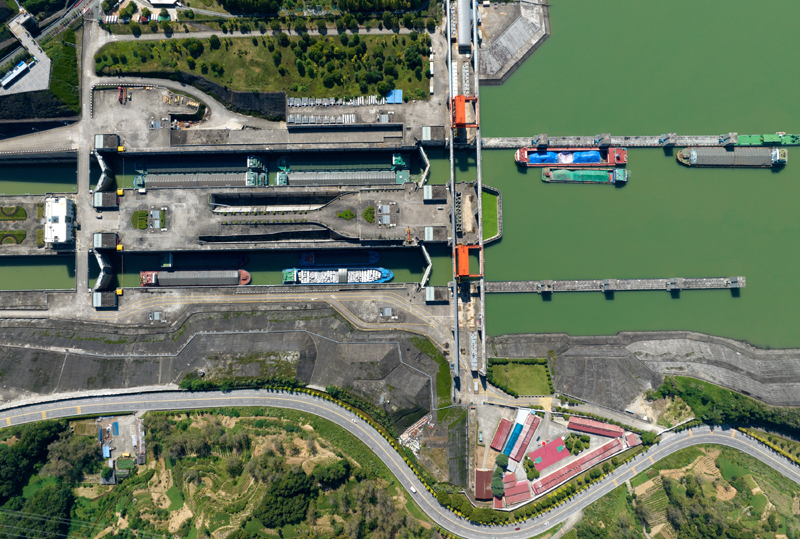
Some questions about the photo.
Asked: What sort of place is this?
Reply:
port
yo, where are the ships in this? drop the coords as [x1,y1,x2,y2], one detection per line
[677,147,790,167]
[275,171,409,187]
[541,167,630,183]
[277,155,409,170]
[282,268,394,284]
[134,155,269,171]
[133,172,268,188]
[514,148,628,167]
[159,252,248,266]
[139,270,252,286]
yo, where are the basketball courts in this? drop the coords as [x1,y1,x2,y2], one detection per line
[530,437,570,471]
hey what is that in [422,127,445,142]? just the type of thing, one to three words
house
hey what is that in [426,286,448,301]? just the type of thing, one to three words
house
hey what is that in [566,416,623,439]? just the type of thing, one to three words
building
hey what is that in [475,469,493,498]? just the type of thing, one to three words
building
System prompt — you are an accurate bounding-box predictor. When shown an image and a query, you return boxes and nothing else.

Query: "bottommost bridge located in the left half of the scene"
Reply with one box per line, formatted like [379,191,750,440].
[76,251,89,292]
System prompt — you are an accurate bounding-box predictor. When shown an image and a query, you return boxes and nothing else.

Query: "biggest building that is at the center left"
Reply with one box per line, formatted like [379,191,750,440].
[45,197,80,252]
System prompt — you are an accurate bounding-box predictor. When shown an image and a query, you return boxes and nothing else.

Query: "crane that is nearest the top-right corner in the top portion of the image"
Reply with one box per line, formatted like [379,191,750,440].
[450,96,480,132]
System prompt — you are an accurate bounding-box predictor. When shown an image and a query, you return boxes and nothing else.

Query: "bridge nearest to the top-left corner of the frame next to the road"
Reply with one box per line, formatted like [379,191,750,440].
[77,149,90,195]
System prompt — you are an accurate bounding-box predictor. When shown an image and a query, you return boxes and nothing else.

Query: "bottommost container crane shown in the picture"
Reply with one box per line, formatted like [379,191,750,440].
[453,245,484,280]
